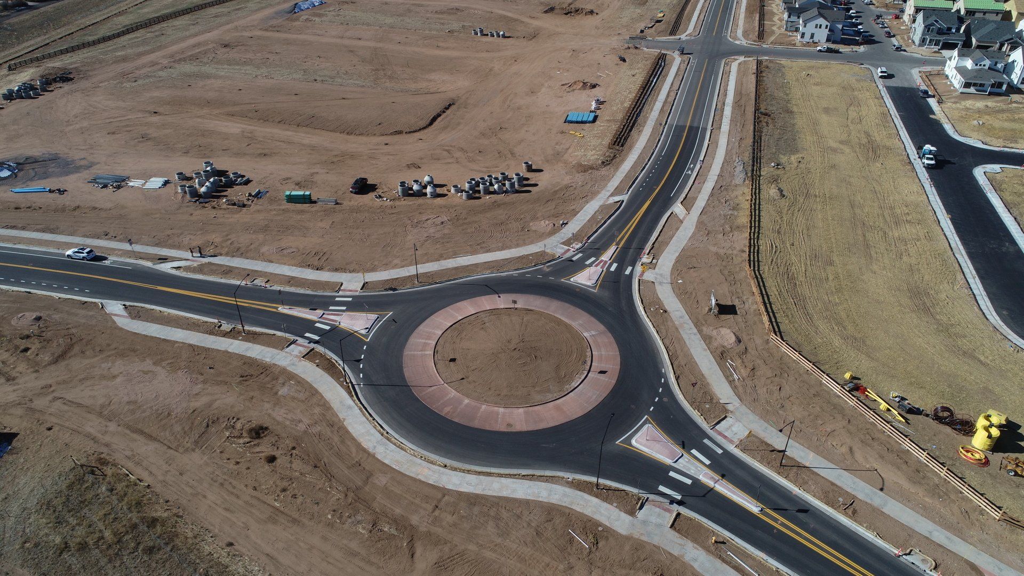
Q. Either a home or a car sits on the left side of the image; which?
car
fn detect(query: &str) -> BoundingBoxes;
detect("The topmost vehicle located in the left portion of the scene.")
[349,176,370,192]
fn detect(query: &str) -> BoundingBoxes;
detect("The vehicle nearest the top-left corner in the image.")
[64,245,97,261]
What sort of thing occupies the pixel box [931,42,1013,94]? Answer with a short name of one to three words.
house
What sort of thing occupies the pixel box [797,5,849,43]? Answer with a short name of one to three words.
house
